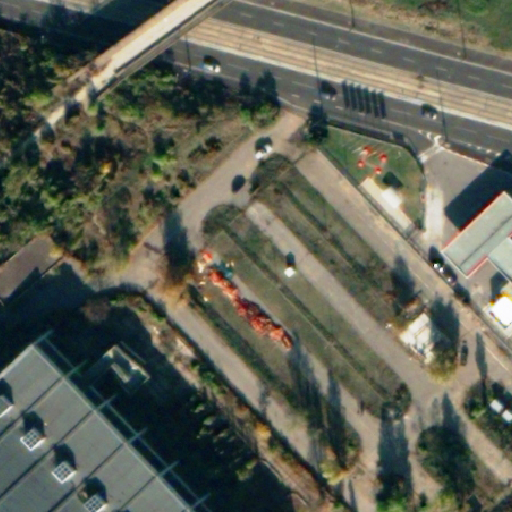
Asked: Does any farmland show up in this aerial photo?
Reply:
No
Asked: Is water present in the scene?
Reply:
No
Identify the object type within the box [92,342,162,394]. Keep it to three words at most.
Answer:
house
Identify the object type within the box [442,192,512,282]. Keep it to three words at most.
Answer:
gas station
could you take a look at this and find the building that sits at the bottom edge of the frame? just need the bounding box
[0,327,232,512]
